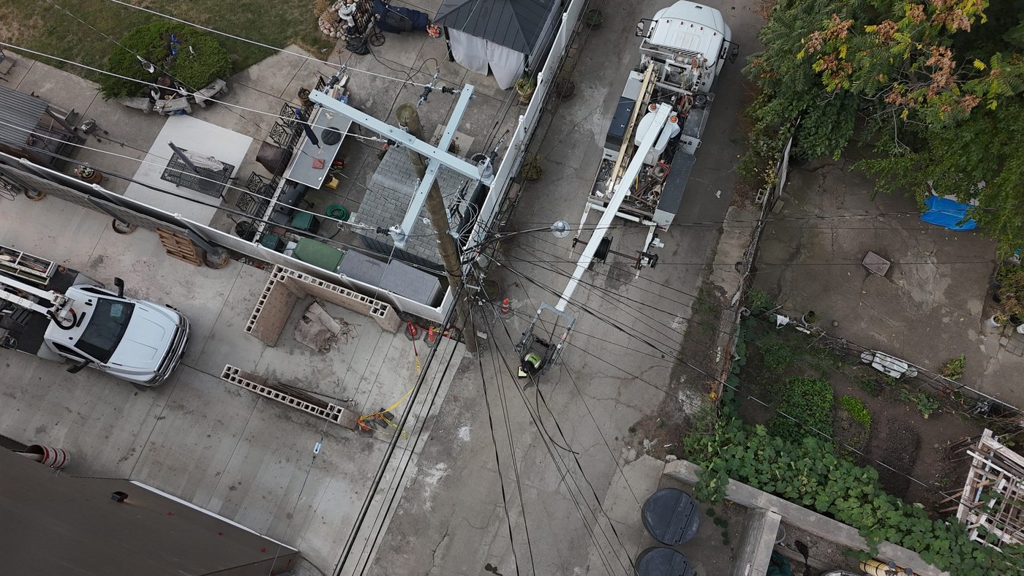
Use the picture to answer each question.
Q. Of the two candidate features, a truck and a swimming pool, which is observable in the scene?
truck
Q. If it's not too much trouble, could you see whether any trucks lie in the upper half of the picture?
Yes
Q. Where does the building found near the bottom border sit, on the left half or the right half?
left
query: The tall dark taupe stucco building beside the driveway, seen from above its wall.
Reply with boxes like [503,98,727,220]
[0,427,299,576]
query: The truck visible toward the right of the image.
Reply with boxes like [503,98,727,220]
[515,4,740,389]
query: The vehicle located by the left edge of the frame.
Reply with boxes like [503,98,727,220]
[0,242,193,392]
